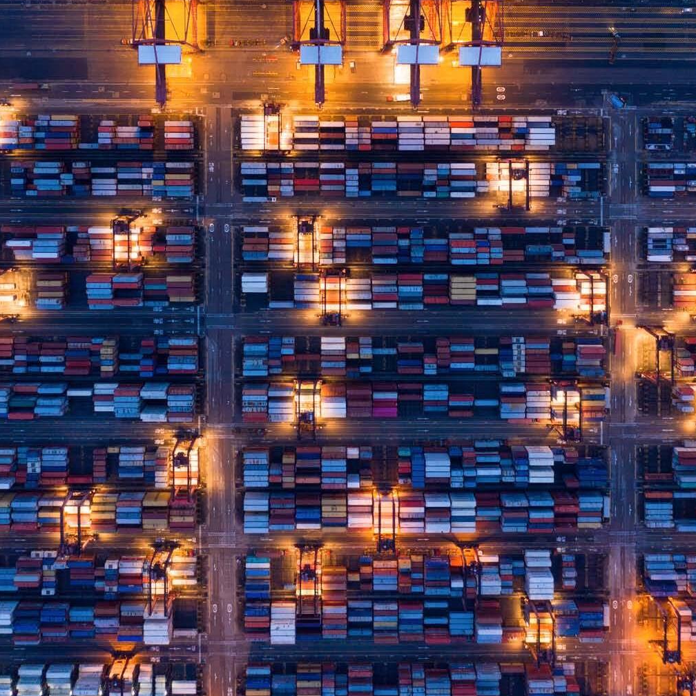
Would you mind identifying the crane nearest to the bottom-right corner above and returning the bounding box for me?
[658,649,695,696]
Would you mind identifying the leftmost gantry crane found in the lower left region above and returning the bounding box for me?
[59,485,94,556]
